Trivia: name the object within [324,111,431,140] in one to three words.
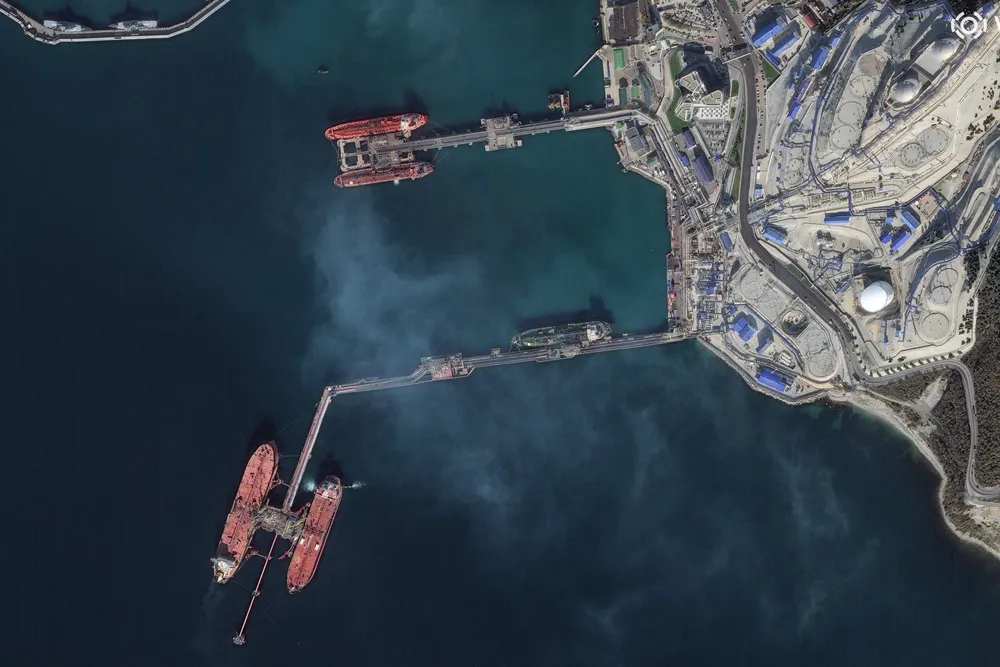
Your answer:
ship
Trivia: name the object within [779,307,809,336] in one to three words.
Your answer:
storage tank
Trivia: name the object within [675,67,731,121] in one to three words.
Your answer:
building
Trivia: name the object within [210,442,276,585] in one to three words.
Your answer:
ship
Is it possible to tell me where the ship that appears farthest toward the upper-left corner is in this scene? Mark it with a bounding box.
[43,20,93,33]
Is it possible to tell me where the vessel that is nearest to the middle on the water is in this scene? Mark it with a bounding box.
[512,321,615,351]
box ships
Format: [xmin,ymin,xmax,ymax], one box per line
[285,473,341,593]
[43,20,93,33]
[549,93,562,109]
[107,20,159,28]
[324,111,431,140]
[210,442,276,585]
[333,162,437,188]
[512,321,615,351]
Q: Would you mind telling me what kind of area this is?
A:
port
